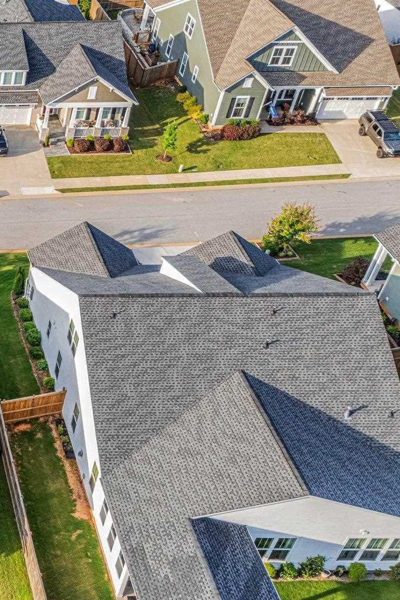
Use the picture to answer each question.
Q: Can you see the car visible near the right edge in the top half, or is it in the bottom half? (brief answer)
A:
top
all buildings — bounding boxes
[133,0,400,124]
[19,217,400,600]
[0,0,141,136]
